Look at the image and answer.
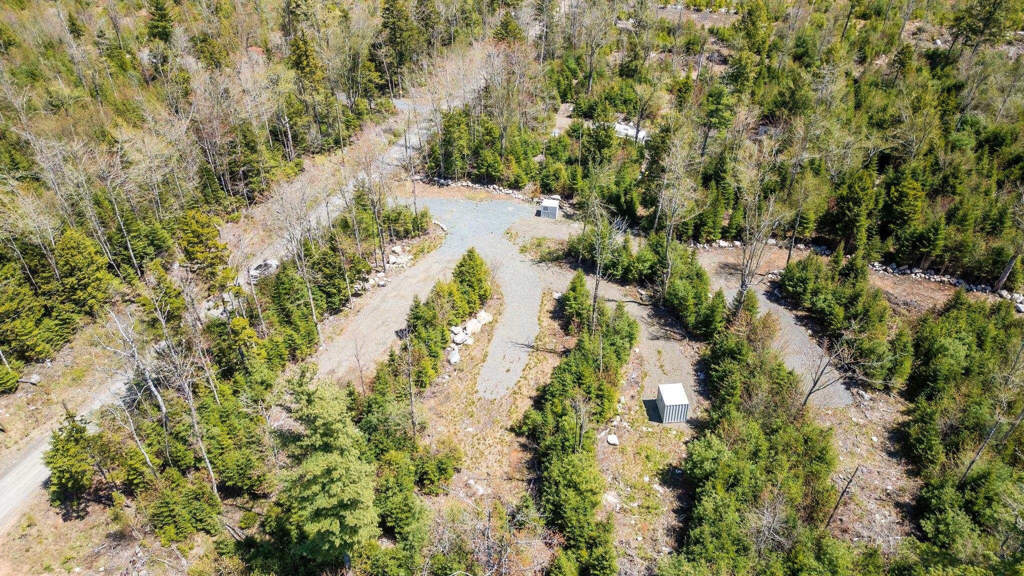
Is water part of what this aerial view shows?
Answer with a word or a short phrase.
No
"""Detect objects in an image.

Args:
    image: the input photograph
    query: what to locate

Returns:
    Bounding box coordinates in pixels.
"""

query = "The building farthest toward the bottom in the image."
[541,199,558,219]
